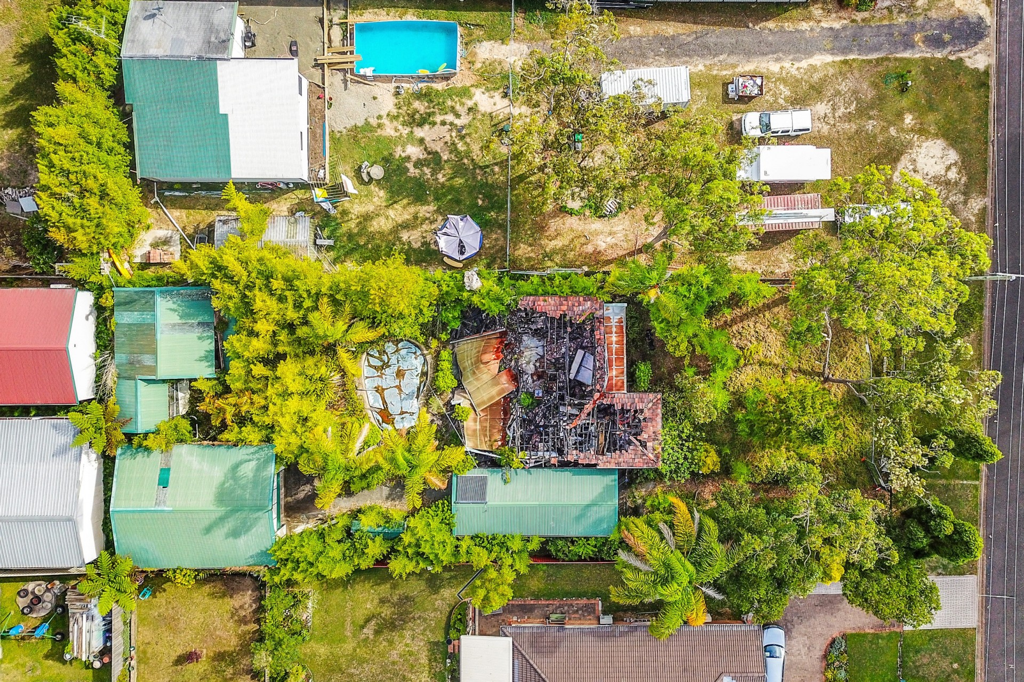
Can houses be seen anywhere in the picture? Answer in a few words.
Yes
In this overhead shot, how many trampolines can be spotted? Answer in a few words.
one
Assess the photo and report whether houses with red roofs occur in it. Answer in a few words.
Yes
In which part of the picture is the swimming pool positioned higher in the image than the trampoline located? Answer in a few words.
top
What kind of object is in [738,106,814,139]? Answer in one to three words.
truck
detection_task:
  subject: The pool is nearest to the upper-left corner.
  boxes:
[354,19,465,86]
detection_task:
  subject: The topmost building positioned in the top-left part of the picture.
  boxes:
[118,0,312,182]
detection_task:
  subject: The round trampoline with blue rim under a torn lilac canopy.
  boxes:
[434,213,484,262]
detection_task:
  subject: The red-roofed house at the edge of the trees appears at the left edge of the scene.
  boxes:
[0,286,94,405]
